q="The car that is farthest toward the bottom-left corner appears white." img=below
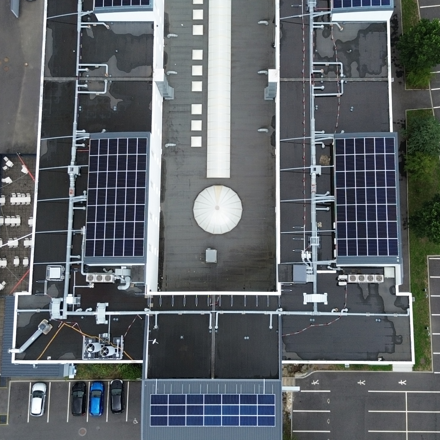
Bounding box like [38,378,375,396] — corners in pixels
[30,383,48,417]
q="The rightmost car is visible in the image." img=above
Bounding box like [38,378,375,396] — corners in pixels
[109,379,126,413]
